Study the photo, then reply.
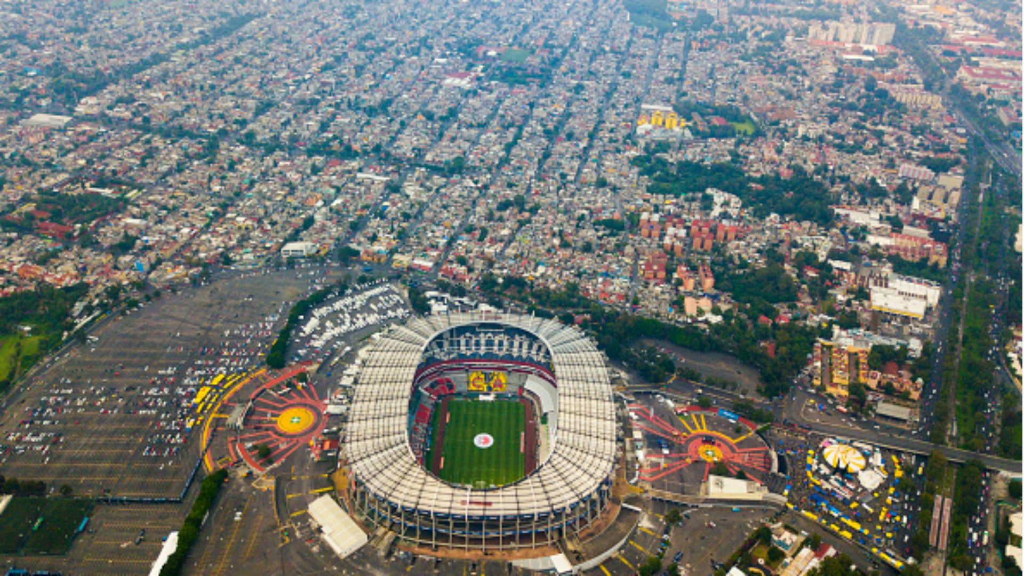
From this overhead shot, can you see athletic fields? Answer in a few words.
Yes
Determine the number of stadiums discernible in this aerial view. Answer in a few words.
1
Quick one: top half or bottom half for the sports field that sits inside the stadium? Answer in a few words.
bottom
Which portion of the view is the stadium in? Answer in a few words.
bottom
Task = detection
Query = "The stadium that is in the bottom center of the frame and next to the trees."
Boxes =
[344,300,617,553]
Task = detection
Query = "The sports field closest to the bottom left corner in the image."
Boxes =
[438,398,525,484]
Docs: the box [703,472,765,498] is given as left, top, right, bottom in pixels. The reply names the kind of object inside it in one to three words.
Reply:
building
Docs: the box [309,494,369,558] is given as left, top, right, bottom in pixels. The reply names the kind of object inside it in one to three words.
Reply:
building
